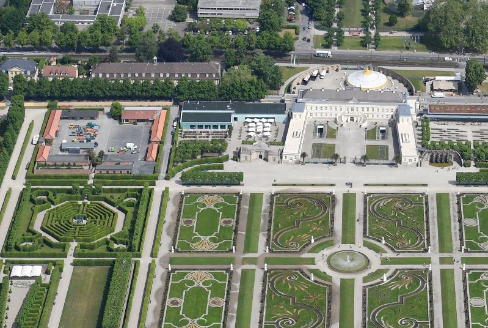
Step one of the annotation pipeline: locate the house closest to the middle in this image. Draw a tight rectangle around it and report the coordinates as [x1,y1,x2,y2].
[239,135,282,163]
